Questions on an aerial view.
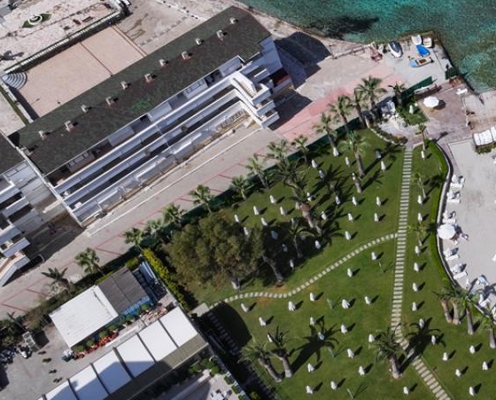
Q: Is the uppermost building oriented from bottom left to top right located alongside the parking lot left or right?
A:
left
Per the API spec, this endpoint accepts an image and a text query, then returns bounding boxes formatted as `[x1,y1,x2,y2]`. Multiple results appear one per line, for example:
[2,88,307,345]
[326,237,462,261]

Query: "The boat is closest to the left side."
[386,37,403,57]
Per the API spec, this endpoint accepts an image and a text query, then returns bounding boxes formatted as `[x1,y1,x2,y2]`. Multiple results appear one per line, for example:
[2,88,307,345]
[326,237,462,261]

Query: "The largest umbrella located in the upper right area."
[423,100,438,114]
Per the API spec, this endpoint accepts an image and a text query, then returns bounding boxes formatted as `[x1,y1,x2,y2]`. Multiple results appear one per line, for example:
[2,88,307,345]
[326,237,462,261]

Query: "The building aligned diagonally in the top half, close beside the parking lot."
[8,7,291,228]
